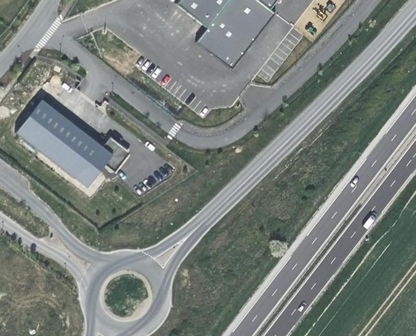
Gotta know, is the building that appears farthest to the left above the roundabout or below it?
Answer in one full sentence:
From this view, the building that appears farthest to the left can be seen above the roundabout.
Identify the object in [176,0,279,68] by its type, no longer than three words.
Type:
building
